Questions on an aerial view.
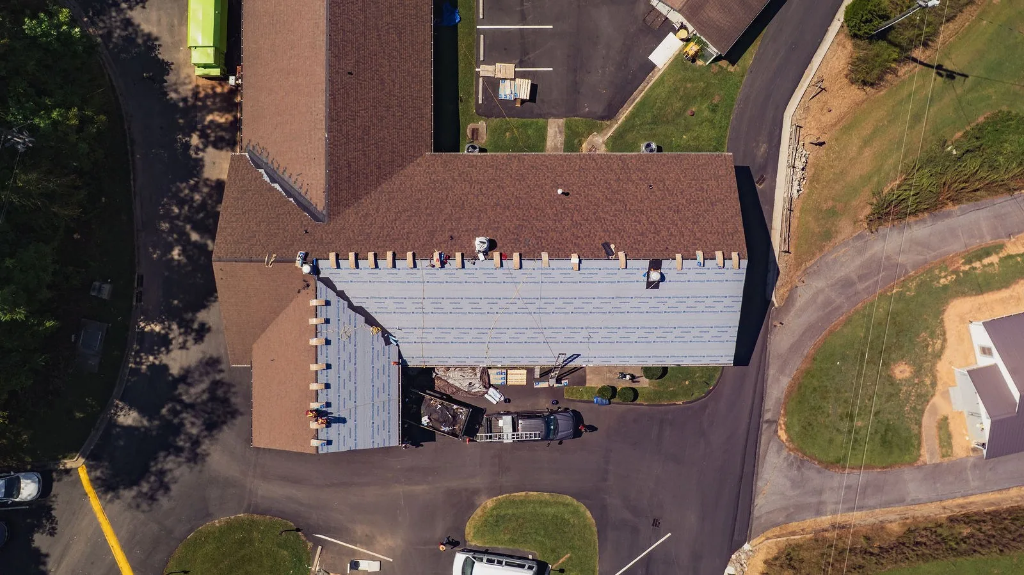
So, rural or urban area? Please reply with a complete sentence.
It looks urban.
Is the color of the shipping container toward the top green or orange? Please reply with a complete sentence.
In this view, the shipping container toward the top is green.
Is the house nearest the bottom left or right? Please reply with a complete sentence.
It is on the right.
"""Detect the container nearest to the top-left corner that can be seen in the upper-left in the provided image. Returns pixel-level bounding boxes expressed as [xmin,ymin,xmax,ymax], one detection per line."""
[188,0,232,79]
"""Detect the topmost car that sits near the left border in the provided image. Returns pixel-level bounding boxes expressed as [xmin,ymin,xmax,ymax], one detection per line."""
[0,471,43,506]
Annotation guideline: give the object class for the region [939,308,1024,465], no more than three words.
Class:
house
